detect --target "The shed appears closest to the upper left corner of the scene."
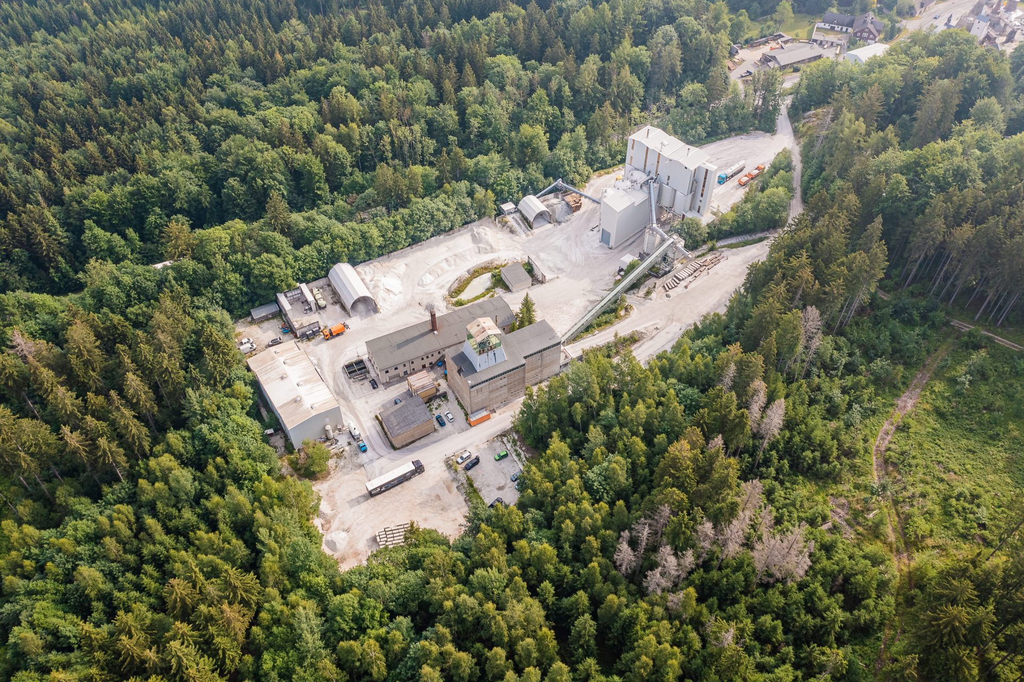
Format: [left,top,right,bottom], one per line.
[248,296,279,321]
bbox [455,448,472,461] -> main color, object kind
white vehicle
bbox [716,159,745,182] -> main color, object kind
white truck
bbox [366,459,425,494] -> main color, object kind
white truck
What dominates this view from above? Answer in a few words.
trees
